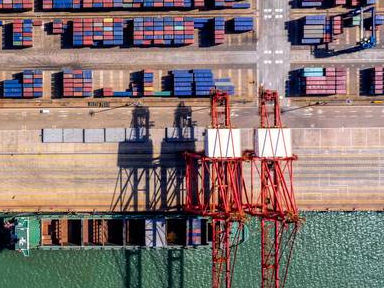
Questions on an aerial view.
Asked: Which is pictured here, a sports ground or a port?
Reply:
port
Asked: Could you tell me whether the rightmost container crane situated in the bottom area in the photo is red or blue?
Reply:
red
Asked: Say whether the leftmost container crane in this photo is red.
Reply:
Yes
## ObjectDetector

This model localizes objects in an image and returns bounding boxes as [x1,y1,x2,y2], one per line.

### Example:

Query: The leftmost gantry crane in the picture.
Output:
[174,90,251,288]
